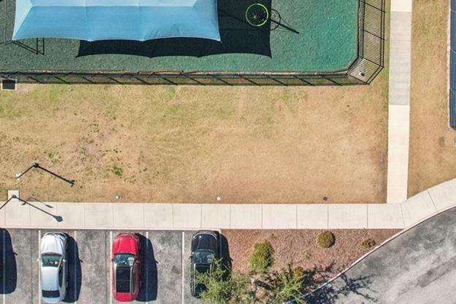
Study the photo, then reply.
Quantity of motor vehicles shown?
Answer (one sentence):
There are 3 motor vehicles in the image.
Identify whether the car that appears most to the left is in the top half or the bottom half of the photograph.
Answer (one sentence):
It is in the bottom half that the car that appears most to the left appears.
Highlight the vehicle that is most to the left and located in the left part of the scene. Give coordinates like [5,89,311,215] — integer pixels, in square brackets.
[34,230,67,299]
